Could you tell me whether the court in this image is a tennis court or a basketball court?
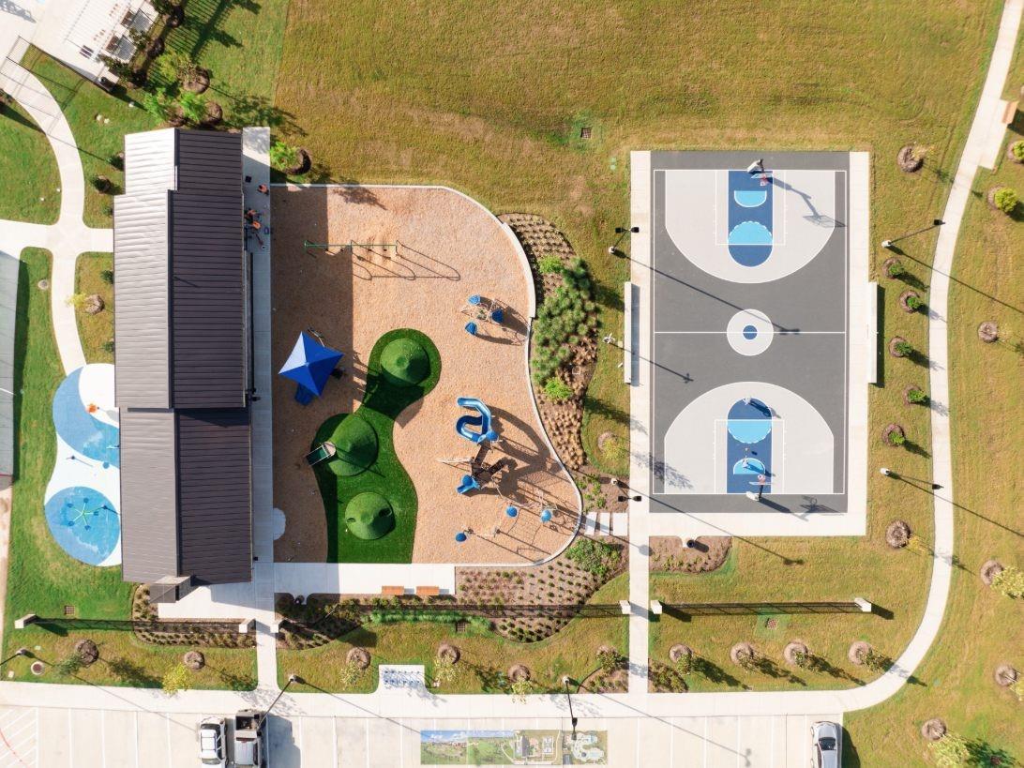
basketball court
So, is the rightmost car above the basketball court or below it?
below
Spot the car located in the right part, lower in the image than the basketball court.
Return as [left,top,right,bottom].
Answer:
[810,721,843,768]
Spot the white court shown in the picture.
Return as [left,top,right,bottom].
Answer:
[630,150,869,536]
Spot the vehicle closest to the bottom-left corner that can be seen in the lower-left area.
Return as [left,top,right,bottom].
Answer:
[196,719,229,768]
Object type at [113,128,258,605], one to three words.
building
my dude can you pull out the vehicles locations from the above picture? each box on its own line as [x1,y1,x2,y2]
[196,719,229,768]
[810,721,843,768]
[233,712,267,768]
